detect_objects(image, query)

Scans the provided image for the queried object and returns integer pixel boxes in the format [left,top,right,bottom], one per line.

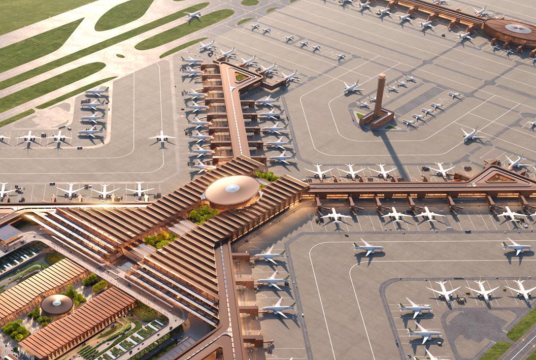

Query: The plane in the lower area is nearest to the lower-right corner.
[507,278,536,301]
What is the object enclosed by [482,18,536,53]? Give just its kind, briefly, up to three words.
building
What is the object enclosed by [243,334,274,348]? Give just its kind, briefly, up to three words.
jet bridge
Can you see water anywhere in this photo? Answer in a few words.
No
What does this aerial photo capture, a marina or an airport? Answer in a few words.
airport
